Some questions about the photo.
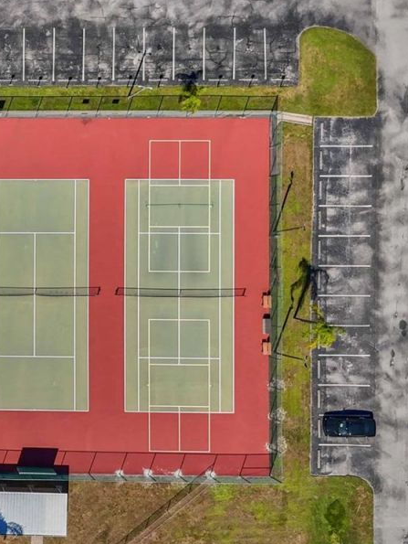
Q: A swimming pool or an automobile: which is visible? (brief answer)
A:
automobile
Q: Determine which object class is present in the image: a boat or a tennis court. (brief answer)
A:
tennis court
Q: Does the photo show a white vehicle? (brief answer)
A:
No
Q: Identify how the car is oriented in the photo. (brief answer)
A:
from side to side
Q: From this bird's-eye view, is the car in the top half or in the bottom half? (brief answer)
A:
bottom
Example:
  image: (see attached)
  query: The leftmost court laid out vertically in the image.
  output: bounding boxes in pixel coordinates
[0,178,99,411]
